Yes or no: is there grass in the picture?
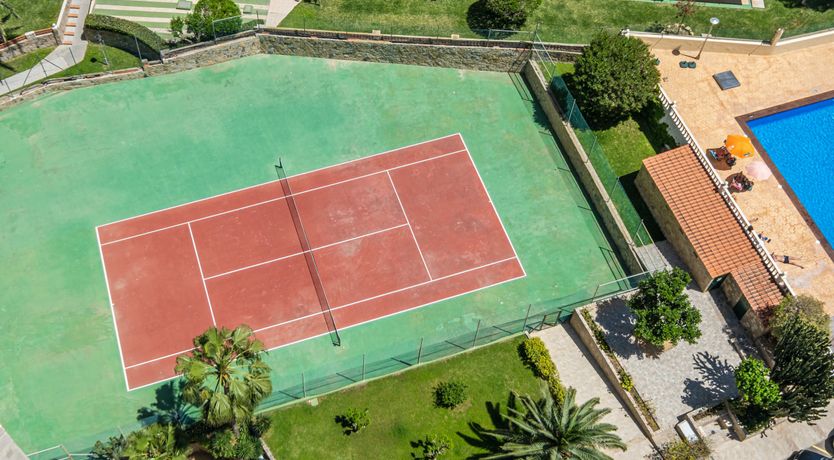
Yes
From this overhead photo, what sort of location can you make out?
sports ground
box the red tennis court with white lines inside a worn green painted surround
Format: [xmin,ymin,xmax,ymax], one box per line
[0,53,635,460]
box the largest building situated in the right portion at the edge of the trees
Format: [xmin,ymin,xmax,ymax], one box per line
[637,145,786,329]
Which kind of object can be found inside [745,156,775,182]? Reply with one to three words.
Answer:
umbrella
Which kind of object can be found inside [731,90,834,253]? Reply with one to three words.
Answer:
swimming pool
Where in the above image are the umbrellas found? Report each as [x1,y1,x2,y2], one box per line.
[745,156,775,182]
[725,134,756,164]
